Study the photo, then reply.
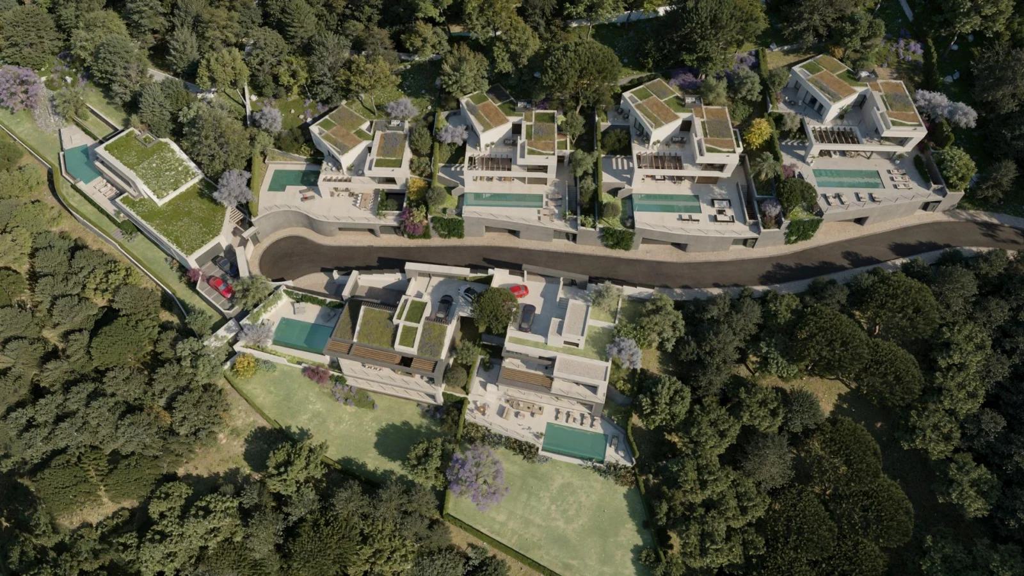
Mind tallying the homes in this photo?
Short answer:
7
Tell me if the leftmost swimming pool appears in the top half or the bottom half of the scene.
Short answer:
top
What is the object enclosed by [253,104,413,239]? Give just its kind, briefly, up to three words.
house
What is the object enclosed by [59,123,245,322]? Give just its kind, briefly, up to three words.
house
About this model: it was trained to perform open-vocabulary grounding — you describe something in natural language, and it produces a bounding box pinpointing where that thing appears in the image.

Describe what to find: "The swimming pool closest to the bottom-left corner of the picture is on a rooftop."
[273,318,334,355]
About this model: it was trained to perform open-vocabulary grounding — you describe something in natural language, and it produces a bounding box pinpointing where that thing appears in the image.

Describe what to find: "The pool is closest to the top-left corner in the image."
[65,145,102,183]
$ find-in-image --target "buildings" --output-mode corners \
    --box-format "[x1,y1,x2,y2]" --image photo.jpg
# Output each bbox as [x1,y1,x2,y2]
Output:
[606,78,762,254]
[233,270,488,408]
[253,104,413,239]
[441,86,580,249]
[766,55,948,228]
[59,123,245,322]
[466,268,636,471]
